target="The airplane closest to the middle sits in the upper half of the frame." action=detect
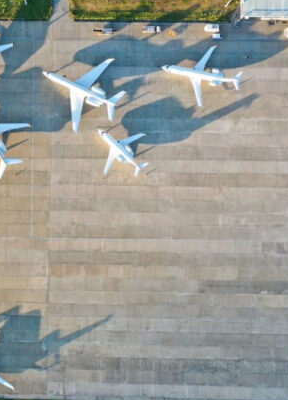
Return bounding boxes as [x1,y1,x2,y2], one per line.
[99,130,150,177]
